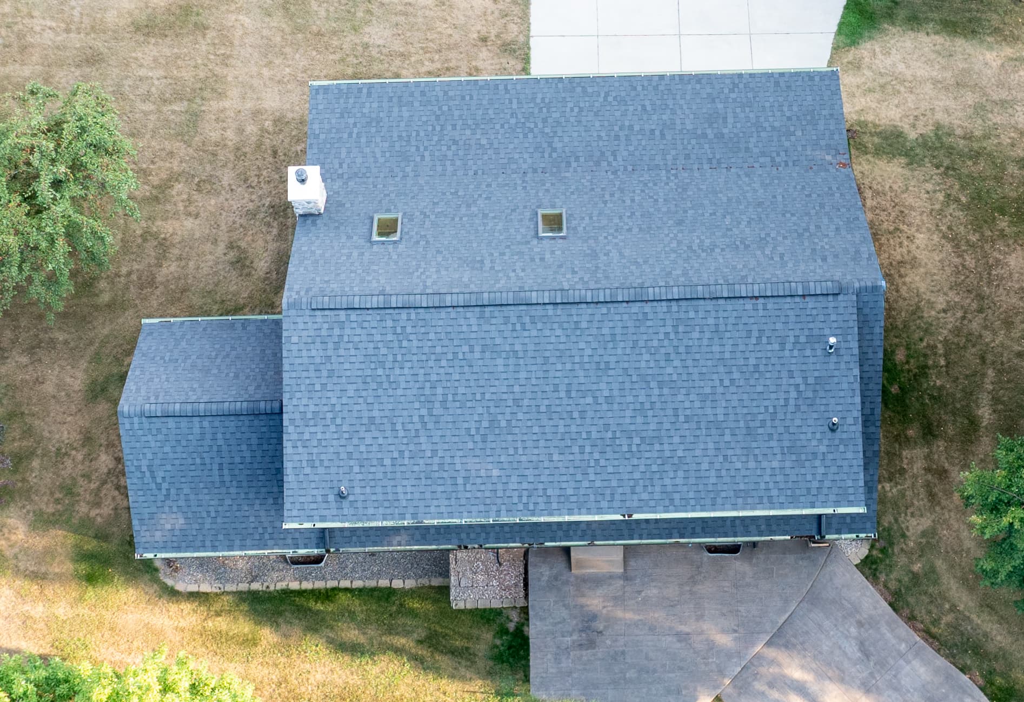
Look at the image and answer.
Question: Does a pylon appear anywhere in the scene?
No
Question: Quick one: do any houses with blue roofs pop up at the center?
Yes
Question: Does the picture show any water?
No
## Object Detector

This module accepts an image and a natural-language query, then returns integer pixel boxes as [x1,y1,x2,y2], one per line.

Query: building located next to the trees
[117,66,888,559]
